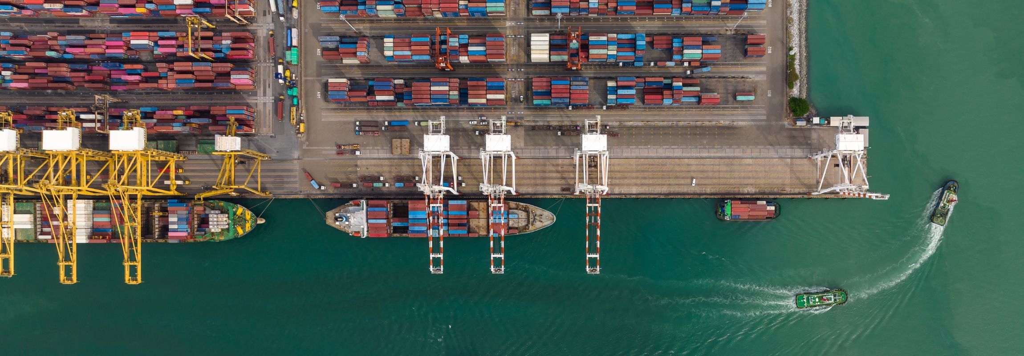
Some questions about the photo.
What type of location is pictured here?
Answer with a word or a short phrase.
port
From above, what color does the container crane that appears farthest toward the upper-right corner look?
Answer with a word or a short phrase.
white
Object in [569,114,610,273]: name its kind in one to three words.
container crane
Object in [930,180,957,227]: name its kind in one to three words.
boat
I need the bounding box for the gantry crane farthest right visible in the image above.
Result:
[801,112,891,200]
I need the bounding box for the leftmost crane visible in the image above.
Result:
[0,112,74,285]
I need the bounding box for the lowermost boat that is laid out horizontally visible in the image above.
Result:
[795,290,848,308]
